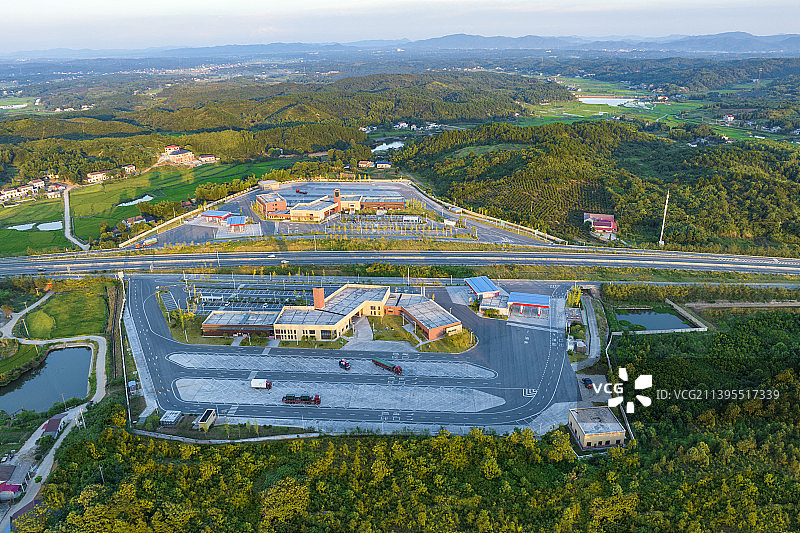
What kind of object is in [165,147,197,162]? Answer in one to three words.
house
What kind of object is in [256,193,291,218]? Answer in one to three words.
building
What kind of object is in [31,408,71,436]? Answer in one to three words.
house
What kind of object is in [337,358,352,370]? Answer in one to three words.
vehicle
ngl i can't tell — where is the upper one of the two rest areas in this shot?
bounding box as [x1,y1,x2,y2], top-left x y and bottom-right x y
[134,182,551,243]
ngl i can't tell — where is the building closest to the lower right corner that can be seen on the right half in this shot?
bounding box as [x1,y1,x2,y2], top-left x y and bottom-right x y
[565,407,628,449]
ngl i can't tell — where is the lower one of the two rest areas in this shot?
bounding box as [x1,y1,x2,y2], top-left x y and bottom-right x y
[123,281,612,434]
